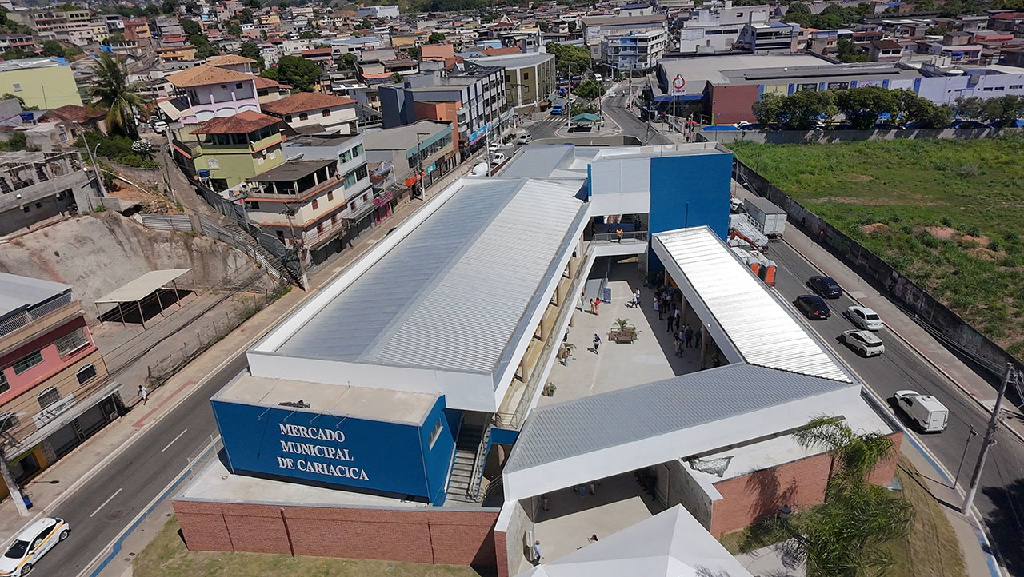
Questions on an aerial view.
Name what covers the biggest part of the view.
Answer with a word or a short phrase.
buildings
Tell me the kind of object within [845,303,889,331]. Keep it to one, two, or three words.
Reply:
car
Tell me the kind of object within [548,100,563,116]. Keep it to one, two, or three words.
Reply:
vehicle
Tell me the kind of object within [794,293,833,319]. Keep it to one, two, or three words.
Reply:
car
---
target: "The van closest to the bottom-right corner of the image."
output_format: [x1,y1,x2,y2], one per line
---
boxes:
[891,391,962,438]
